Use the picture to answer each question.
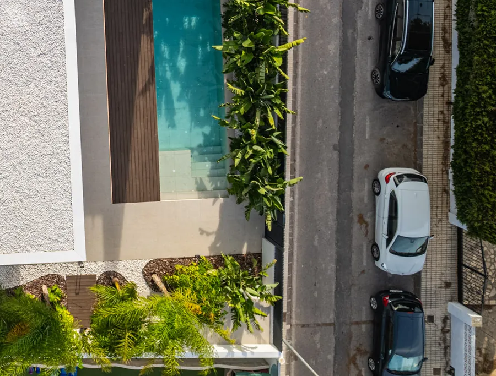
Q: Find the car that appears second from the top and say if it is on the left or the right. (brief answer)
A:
right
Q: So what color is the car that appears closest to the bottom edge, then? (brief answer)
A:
black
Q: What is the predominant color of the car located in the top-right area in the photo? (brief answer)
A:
black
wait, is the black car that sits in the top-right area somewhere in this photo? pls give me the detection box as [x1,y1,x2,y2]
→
[371,0,436,103]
